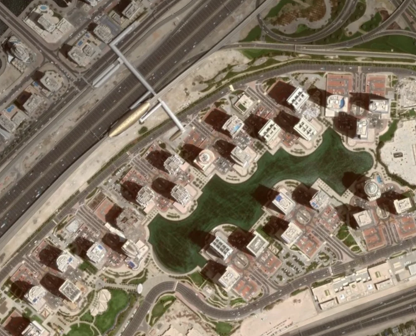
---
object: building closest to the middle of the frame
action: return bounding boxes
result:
[195,148,221,175]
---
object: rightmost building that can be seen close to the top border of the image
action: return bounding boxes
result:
[119,0,148,23]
